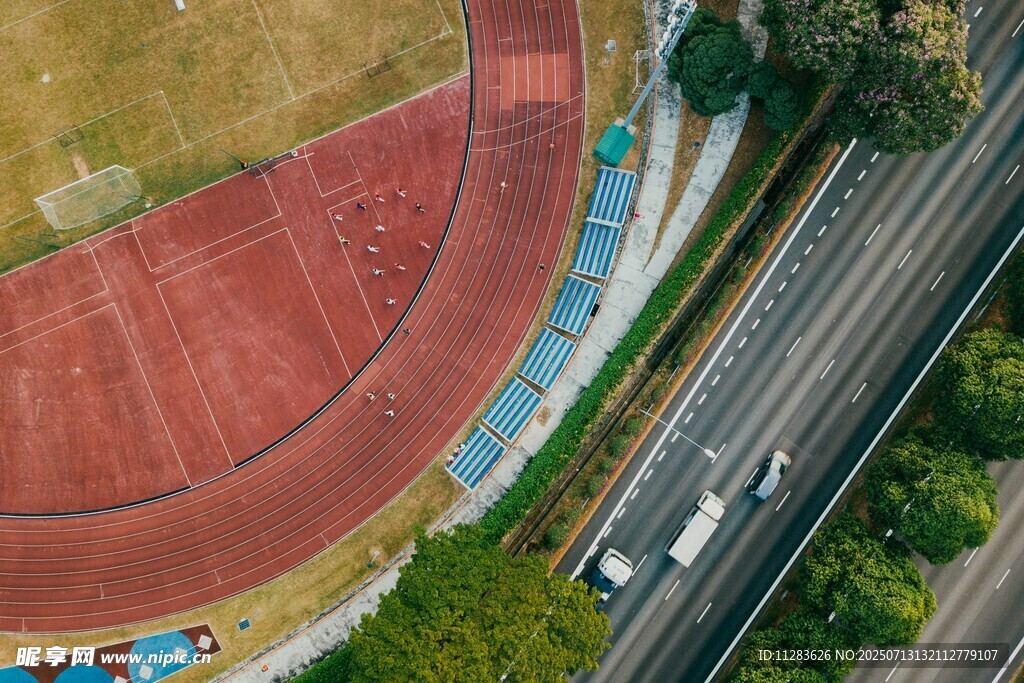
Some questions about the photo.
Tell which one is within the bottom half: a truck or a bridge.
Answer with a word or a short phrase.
truck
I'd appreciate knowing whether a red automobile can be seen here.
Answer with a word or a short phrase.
No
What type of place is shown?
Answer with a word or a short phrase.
sports ground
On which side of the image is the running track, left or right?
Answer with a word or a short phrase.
left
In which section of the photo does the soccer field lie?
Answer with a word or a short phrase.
top left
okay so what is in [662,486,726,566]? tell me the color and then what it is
white truck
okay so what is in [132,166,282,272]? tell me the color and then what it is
red sports court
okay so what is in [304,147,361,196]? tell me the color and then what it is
red sports court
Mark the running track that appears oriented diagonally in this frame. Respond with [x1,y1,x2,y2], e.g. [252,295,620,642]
[0,0,588,633]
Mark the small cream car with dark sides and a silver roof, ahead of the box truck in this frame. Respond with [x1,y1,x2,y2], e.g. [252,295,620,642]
[750,451,794,503]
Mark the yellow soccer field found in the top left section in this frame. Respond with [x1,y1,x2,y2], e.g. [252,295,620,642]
[0,0,469,275]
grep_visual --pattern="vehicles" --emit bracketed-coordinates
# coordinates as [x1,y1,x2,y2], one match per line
[750,451,794,503]
[570,545,634,613]
[662,486,726,566]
